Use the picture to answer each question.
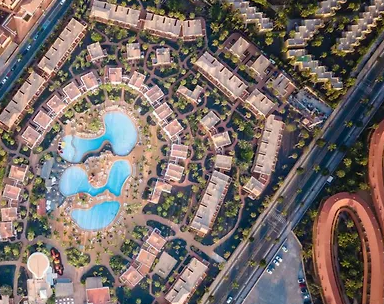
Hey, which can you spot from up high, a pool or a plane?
pool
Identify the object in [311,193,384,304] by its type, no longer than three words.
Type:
building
